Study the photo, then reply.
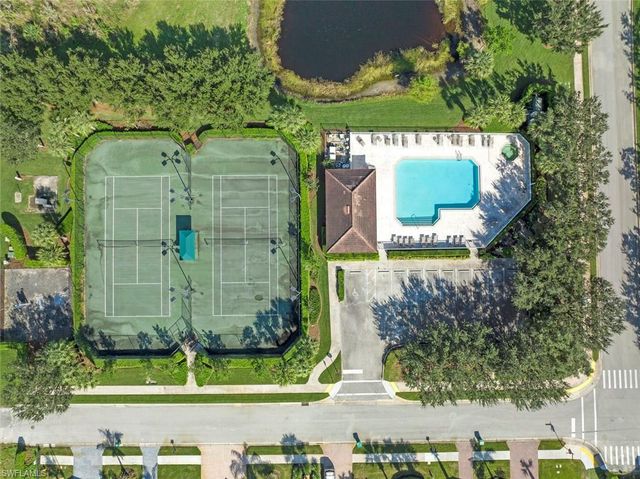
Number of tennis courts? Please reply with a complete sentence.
I count 2 tennis courts.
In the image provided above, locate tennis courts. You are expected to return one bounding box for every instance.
[191,139,299,355]
[86,139,191,355]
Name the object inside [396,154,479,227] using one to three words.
swimming pool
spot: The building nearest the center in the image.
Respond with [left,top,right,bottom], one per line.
[326,169,378,253]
